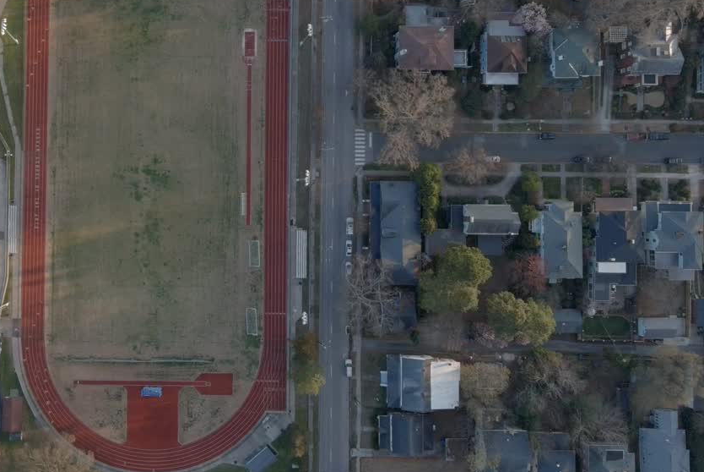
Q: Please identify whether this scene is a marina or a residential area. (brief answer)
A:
residential area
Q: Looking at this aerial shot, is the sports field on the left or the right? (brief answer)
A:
left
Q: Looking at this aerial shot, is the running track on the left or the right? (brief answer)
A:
left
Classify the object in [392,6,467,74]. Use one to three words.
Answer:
house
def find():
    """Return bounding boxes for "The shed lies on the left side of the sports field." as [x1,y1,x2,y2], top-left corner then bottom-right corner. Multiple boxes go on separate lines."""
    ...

[2,396,22,434]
